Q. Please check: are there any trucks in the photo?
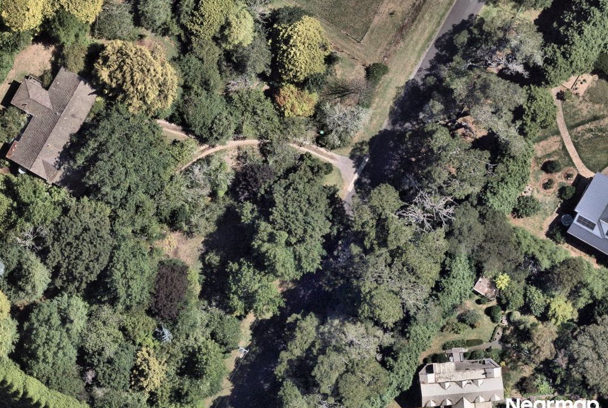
No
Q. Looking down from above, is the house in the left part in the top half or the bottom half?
top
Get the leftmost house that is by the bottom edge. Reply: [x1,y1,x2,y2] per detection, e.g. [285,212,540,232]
[420,348,504,408]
